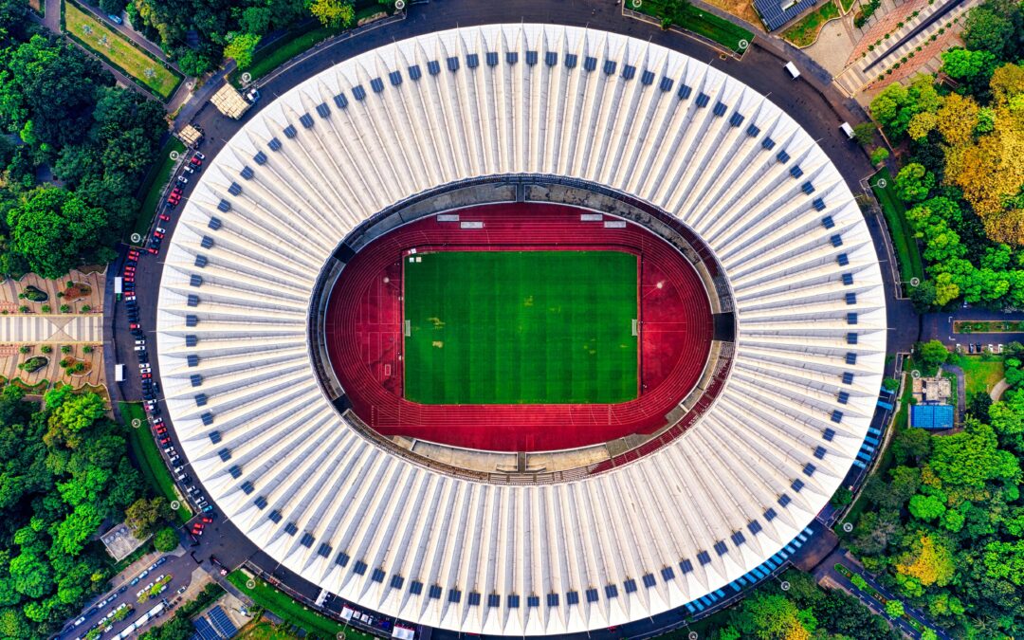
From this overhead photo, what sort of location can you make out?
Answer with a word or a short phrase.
sports ground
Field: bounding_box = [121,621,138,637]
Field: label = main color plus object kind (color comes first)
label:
white vehicle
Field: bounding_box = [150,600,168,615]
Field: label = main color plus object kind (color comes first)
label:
white vehicle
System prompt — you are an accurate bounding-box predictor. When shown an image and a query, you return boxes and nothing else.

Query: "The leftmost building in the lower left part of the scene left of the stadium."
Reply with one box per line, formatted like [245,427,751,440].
[99,519,156,562]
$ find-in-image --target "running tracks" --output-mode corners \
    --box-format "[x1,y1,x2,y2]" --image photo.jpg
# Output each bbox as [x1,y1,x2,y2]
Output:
[326,201,712,453]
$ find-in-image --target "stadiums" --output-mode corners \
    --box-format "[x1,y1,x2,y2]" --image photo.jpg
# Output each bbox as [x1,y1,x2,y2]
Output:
[156,17,887,640]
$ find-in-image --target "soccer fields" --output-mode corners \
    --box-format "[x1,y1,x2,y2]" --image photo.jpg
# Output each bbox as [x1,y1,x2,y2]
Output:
[403,250,640,404]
